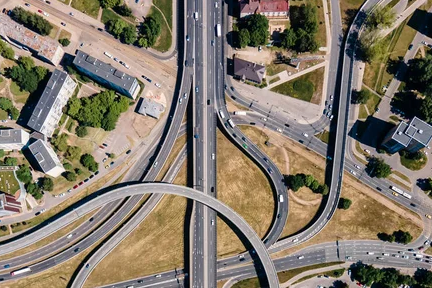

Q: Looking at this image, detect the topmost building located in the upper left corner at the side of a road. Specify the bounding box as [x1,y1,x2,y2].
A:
[0,15,64,68]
